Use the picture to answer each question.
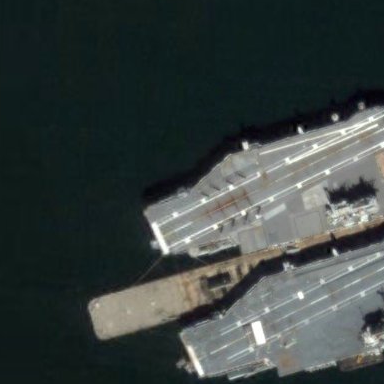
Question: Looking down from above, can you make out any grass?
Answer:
No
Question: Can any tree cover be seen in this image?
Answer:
No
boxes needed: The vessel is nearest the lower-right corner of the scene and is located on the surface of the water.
[339,352,383,373]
